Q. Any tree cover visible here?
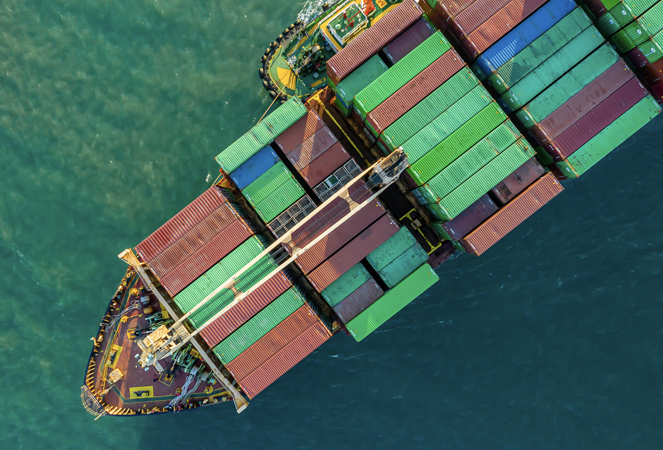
No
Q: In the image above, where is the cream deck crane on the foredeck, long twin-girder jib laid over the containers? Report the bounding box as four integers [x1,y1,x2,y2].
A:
[128,148,410,377]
